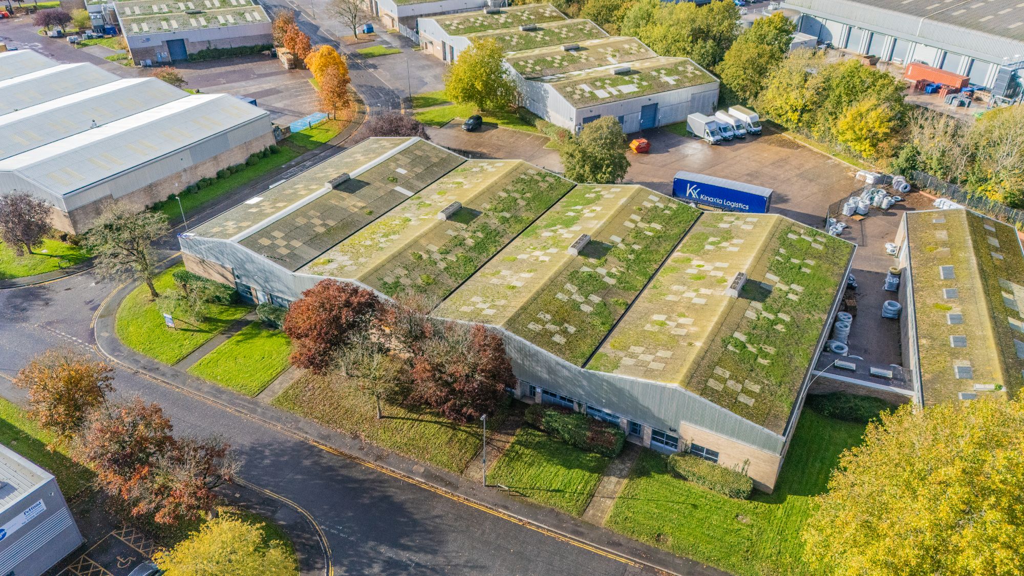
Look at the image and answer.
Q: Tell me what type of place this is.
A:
industrial area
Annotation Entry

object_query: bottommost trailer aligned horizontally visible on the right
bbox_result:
[673,172,771,211]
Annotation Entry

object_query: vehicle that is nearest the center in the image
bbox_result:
[461,116,483,132]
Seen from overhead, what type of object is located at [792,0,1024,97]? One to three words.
building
